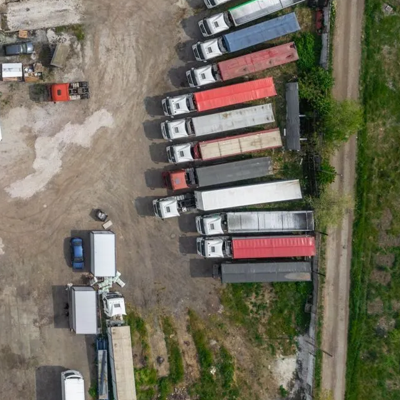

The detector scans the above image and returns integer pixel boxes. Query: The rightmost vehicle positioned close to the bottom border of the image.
[103,293,137,400]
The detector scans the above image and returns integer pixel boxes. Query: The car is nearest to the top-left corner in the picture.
[2,40,34,57]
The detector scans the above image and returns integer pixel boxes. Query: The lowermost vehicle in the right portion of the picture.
[215,258,313,283]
